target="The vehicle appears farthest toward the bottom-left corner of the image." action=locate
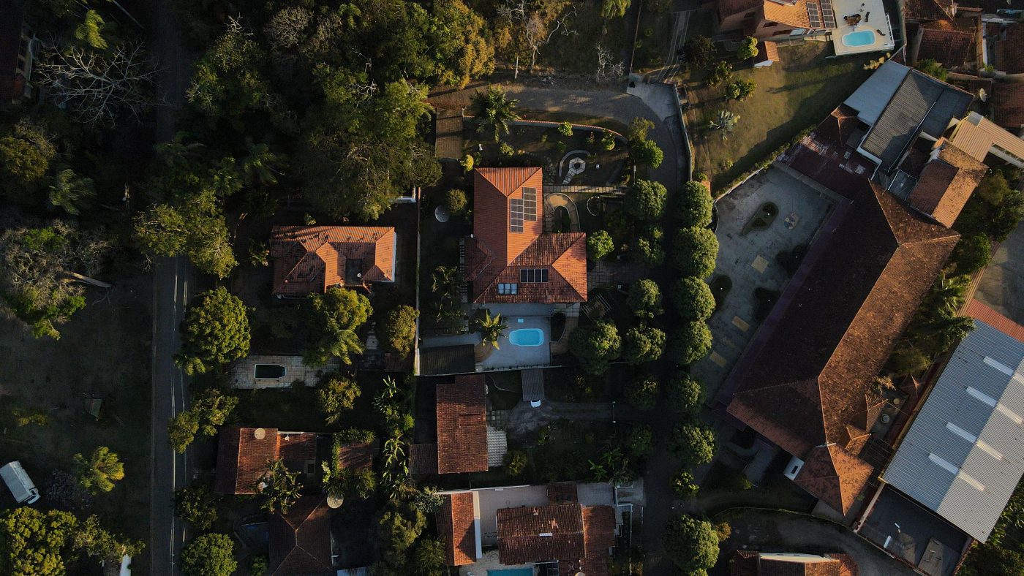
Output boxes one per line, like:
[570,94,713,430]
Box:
[0,459,42,505]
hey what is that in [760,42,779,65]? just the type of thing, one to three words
shed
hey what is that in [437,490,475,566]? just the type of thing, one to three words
house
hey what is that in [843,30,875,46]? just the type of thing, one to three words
swimming pool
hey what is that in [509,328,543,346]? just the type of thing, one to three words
swimming pool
